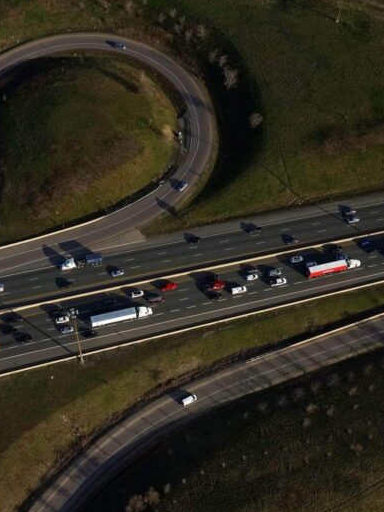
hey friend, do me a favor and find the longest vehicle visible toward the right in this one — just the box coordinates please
[306,260,361,279]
